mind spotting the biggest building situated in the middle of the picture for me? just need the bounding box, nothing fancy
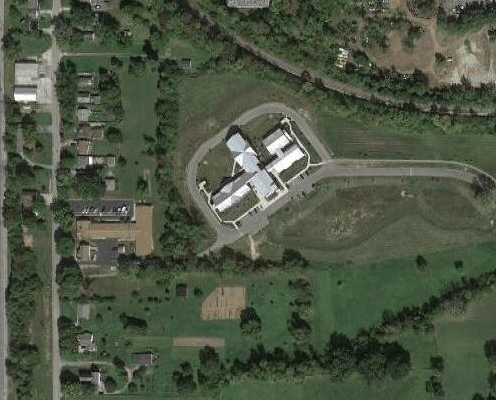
[213,129,305,213]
